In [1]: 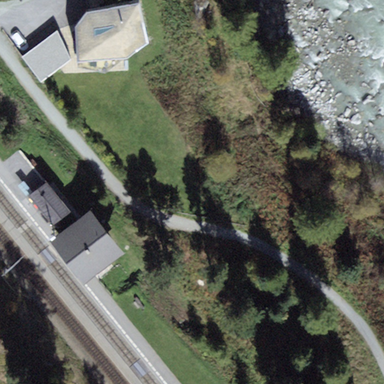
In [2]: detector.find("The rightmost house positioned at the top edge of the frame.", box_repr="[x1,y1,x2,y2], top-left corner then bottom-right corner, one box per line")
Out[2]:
[76,0,148,70]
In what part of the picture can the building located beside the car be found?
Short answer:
top left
